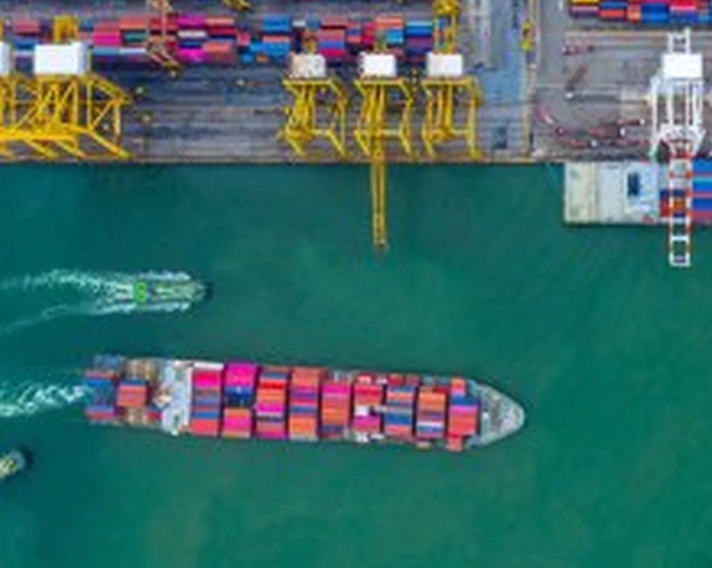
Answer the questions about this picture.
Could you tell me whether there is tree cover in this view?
No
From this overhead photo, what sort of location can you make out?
port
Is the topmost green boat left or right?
left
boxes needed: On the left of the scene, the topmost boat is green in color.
[128,279,209,303]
